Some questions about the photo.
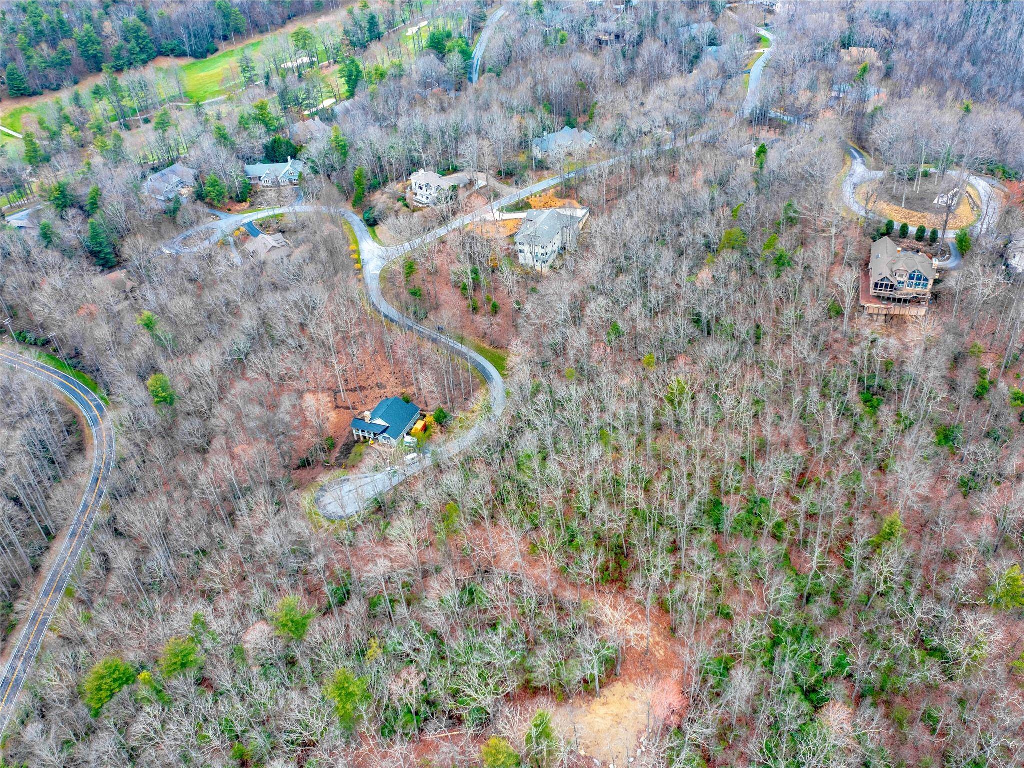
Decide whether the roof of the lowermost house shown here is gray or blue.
blue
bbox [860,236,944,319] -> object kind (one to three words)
house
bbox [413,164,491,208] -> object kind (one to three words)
house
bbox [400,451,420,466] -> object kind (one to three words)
vehicle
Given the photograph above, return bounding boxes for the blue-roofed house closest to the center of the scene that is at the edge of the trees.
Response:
[346,394,423,448]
